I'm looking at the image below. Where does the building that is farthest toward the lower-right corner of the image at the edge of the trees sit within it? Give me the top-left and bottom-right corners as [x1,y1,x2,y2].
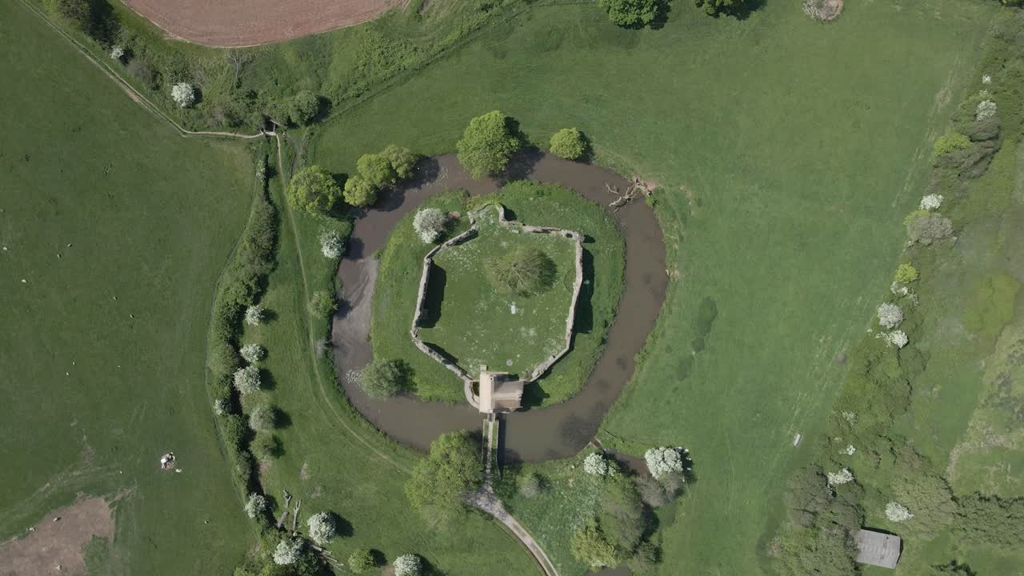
[851,528,901,568]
